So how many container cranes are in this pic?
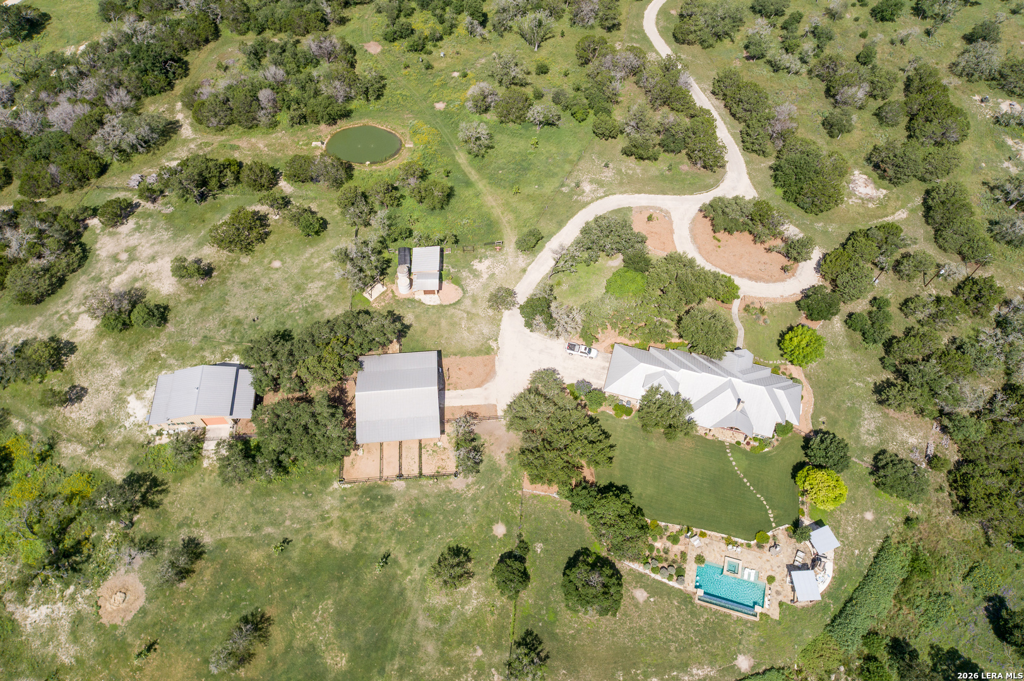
0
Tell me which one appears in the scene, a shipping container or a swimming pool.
swimming pool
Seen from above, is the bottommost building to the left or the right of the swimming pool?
right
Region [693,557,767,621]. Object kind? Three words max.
swimming pool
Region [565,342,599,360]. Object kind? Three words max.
vehicle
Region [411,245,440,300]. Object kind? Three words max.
shed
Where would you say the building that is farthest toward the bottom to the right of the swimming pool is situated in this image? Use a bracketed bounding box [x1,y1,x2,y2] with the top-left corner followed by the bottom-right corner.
[789,570,821,603]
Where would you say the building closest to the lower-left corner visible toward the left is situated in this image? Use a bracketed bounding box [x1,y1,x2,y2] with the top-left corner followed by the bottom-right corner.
[147,364,262,428]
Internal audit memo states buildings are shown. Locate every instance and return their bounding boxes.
[789,570,821,603]
[357,351,442,448]
[807,525,840,556]
[411,245,440,300]
[604,343,802,446]
[147,364,262,428]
